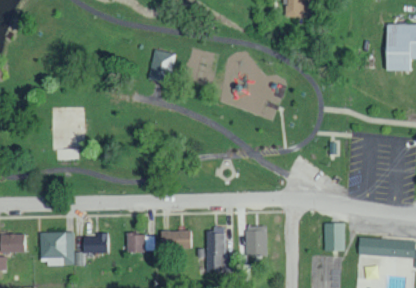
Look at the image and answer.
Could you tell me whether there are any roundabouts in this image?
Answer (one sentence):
No, the frame has no roundabout in it.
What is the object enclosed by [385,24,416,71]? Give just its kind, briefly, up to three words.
house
